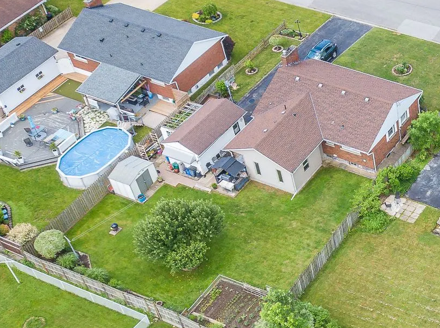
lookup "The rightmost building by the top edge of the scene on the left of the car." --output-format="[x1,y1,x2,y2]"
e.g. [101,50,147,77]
[56,0,236,121]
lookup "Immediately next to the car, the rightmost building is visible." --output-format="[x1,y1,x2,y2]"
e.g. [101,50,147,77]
[222,51,425,199]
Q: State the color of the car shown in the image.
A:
blue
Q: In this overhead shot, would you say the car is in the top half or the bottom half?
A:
top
